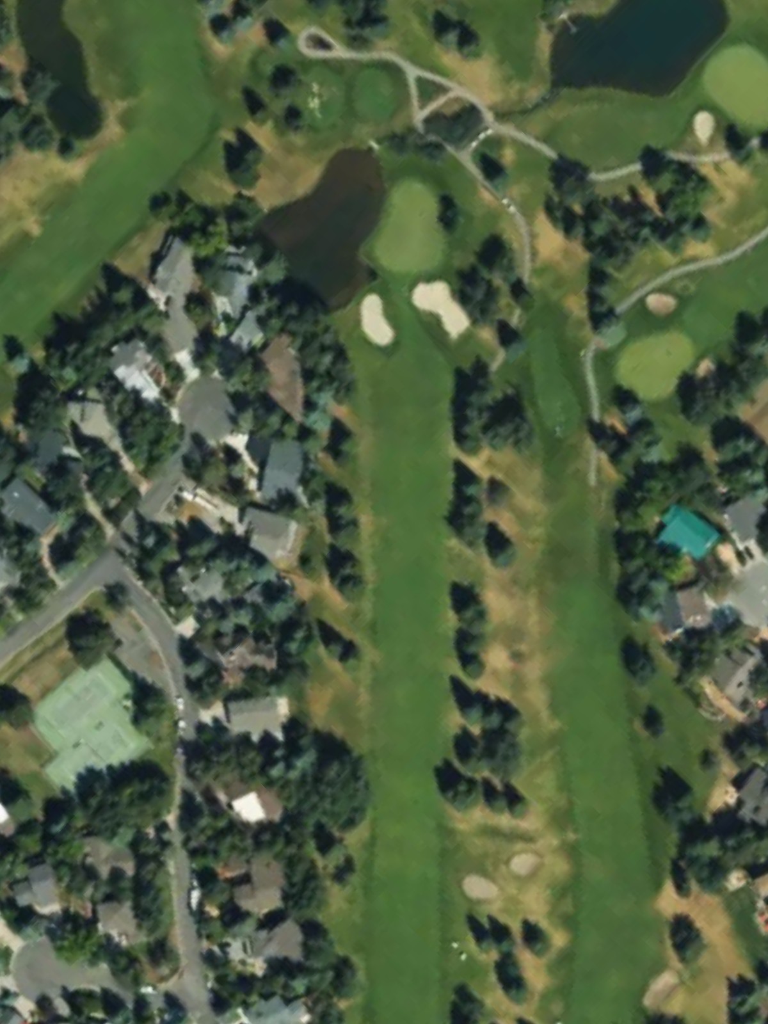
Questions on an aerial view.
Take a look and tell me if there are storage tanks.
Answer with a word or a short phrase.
No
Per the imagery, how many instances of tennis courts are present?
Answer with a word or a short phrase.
2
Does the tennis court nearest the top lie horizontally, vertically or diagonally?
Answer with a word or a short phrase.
diagonally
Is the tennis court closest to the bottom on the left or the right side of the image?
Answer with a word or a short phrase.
left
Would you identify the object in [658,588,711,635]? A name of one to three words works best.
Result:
house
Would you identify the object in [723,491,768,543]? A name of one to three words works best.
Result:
house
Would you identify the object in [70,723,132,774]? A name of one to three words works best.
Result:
tennis court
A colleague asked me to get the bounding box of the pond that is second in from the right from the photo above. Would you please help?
[259,148,384,313]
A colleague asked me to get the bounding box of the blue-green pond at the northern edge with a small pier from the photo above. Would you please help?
[551,0,728,97]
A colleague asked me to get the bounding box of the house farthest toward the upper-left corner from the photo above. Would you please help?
[150,233,195,301]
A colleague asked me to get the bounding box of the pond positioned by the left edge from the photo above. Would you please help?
[17,0,102,139]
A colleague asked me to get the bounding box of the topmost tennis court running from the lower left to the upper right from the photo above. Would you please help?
[50,673,111,731]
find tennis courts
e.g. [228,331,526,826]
[70,723,132,774]
[50,673,111,731]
